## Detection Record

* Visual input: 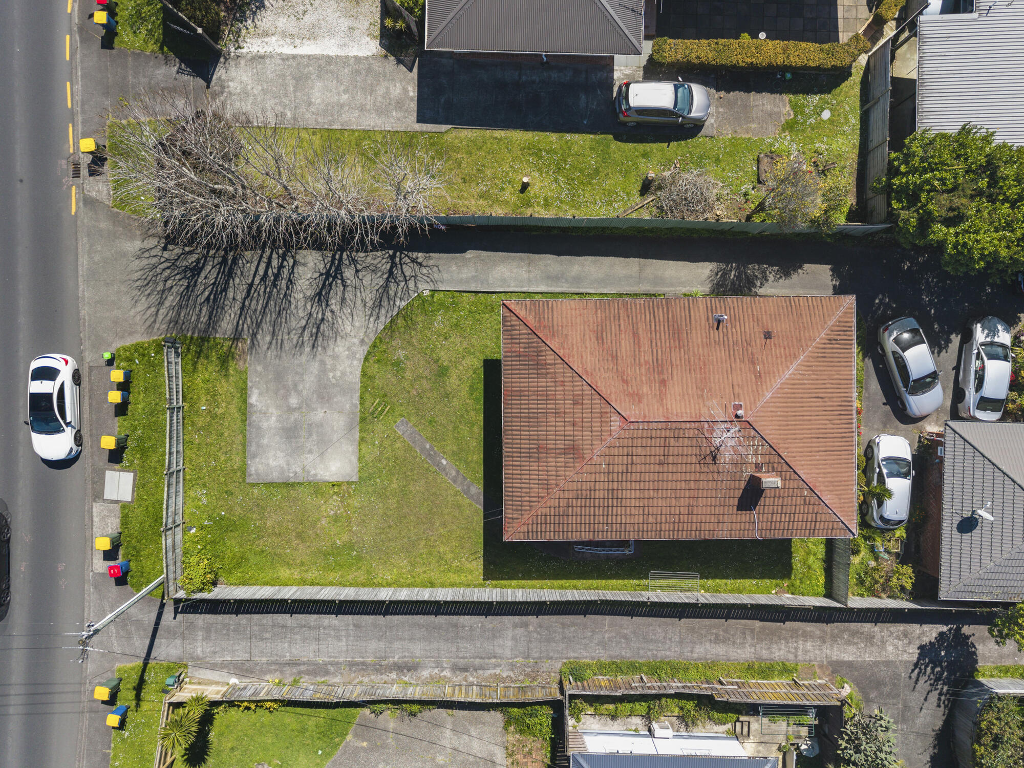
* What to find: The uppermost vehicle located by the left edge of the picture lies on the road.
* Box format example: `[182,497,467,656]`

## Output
[20,353,80,465]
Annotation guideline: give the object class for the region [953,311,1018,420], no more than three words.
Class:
car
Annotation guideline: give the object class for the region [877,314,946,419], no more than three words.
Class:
car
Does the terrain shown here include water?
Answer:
No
